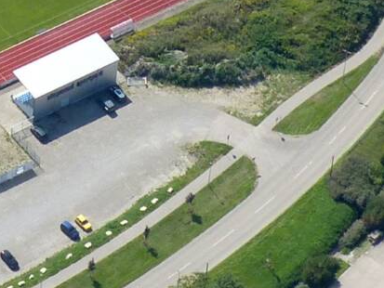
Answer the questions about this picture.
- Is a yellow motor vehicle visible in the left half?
Yes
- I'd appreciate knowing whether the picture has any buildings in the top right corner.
No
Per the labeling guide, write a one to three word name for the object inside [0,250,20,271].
car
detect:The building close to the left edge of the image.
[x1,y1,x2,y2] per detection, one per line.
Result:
[8,34,117,119]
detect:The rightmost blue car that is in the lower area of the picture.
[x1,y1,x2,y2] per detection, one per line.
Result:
[60,220,80,241]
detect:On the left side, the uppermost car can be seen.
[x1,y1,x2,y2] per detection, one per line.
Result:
[109,82,128,100]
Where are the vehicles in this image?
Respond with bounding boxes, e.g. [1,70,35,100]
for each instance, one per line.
[109,82,128,100]
[29,122,49,142]
[60,220,80,241]
[95,93,115,116]
[74,214,94,232]
[0,250,20,271]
